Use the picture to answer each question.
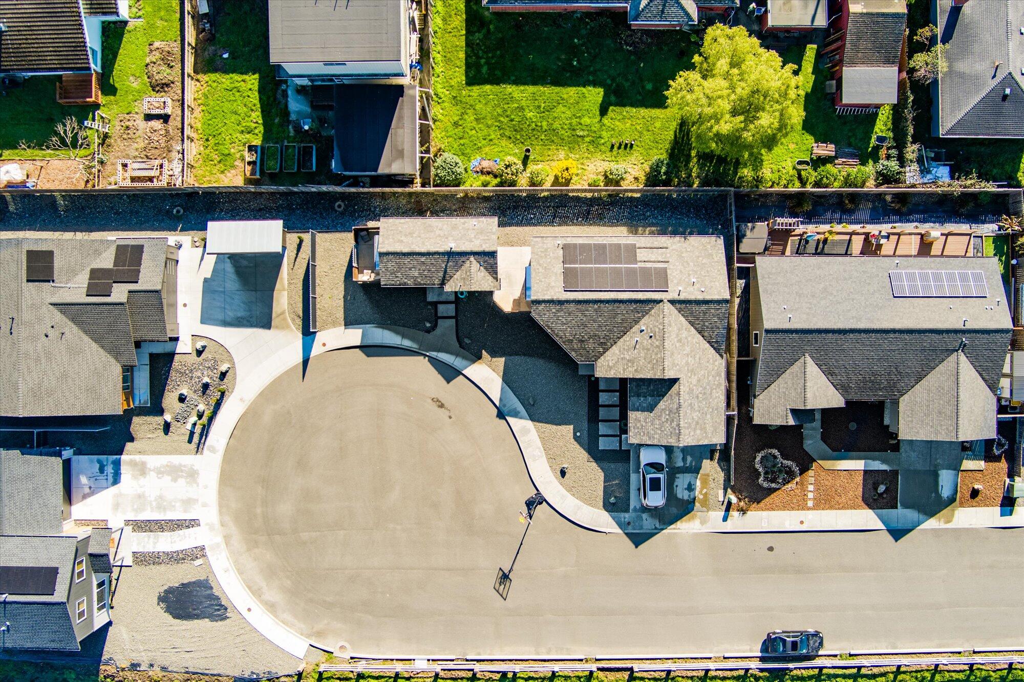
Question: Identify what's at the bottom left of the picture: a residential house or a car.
residential house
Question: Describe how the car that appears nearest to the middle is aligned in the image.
from top to bottom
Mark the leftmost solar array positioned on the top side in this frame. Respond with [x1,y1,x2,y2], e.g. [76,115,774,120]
[26,250,66,286]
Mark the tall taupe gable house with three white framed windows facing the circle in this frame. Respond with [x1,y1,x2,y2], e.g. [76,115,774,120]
[0,525,127,653]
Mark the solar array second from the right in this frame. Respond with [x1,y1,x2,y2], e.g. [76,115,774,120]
[562,243,669,290]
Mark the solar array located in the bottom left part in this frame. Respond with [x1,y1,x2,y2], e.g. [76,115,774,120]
[0,567,59,595]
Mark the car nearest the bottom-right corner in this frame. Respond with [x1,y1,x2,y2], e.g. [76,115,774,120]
[767,628,822,659]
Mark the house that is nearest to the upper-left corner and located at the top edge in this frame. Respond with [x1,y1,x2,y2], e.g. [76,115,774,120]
[0,0,130,81]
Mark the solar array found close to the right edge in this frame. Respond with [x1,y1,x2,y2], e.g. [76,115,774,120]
[889,271,988,296]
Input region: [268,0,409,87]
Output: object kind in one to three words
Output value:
house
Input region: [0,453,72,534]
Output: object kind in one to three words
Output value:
building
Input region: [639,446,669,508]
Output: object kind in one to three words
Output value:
car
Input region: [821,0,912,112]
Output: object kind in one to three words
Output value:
building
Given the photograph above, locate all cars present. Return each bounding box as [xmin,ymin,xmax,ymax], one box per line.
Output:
[639,446,669,508]
[767,628,822,659]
